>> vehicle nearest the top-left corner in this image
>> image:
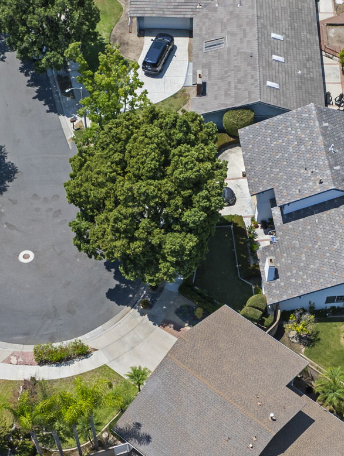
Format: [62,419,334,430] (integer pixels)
[143,38,174,75]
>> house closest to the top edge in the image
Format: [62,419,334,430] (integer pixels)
[129,0,325,132]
